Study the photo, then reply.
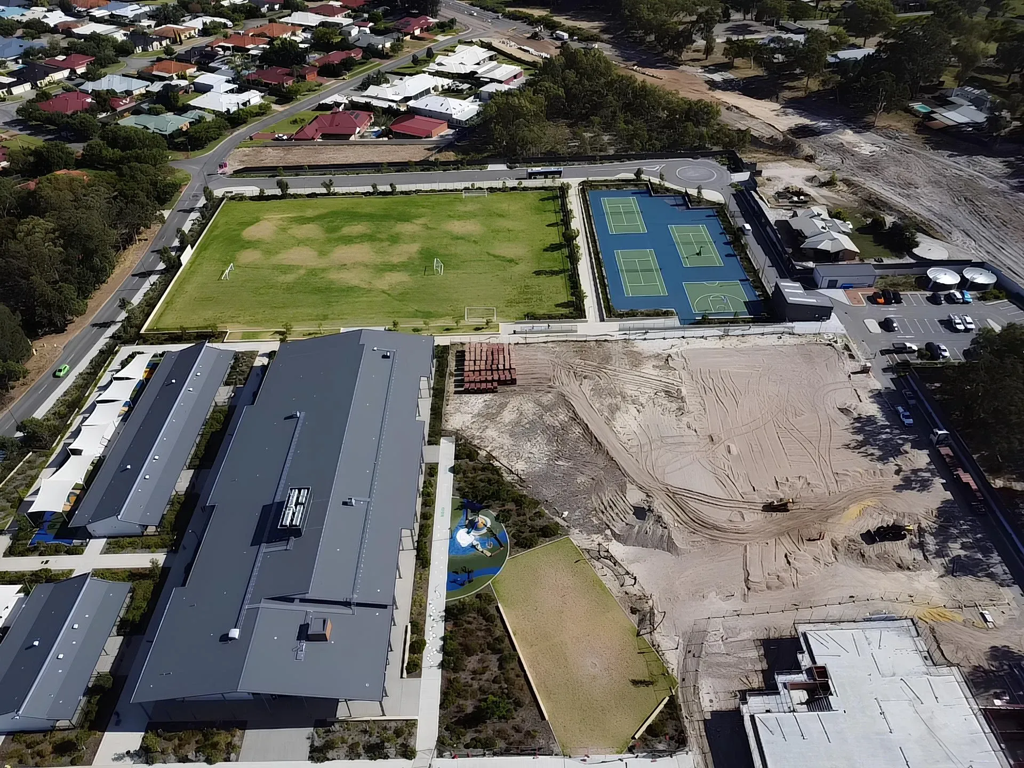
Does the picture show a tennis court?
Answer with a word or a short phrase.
Yes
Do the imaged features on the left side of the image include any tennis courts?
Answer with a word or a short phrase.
No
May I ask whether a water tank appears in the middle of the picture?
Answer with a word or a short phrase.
No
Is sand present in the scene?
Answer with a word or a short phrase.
Yes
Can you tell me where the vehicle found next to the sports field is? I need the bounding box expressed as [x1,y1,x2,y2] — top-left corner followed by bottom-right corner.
[527,165,562,178]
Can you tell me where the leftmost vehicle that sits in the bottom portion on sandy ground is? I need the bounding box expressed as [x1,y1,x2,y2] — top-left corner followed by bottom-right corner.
[761,495,793,517]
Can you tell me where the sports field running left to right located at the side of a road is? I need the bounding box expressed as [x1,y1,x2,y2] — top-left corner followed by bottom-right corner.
[146,189,584,331]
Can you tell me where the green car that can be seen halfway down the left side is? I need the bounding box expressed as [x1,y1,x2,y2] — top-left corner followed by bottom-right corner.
[52,364,70,377]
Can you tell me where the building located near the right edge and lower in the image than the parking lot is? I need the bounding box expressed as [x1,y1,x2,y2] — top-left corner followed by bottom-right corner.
[742,612,1023,768]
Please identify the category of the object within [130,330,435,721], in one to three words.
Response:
building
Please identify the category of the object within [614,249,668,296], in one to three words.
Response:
tennis court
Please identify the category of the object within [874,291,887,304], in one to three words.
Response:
vehicle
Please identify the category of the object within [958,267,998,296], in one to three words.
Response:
water tank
